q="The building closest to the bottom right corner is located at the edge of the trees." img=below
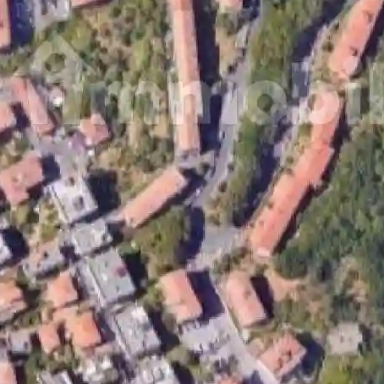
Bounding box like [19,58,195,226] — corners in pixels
[328,321,362,356]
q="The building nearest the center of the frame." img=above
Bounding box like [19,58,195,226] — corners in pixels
[122,167,188,227]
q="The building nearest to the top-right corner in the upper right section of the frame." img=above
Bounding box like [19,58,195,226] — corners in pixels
[329,0,384,81]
